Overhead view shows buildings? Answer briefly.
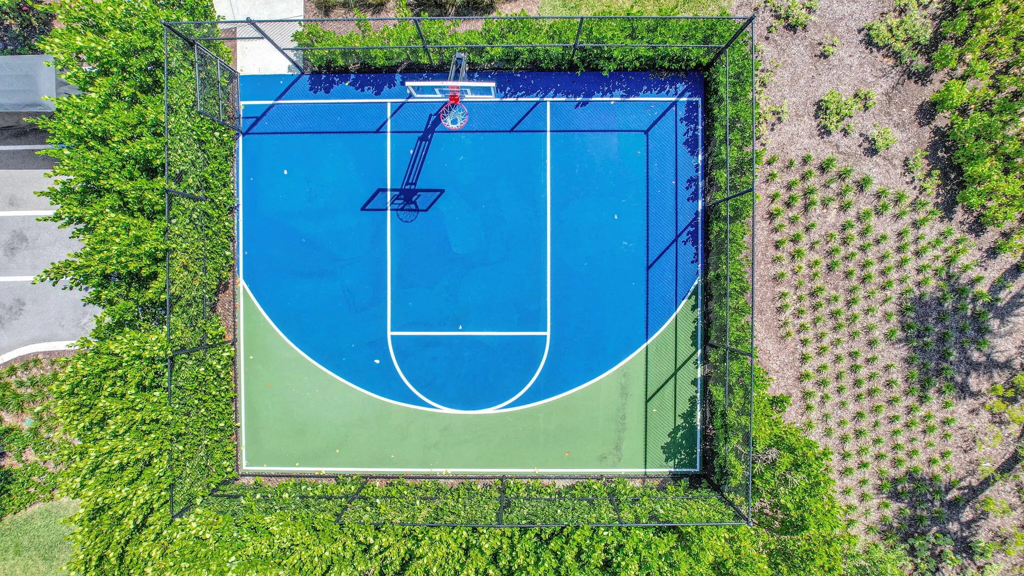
No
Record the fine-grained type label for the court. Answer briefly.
basketball court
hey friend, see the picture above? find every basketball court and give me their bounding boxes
[237,71,704,475]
